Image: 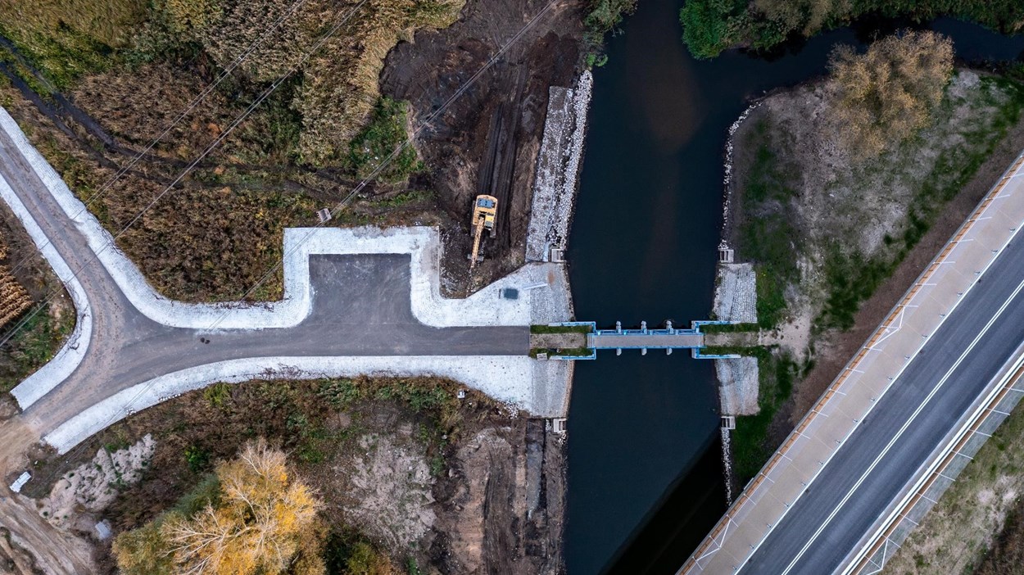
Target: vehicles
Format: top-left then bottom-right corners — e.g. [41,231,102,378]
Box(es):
[470,194,497,263]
